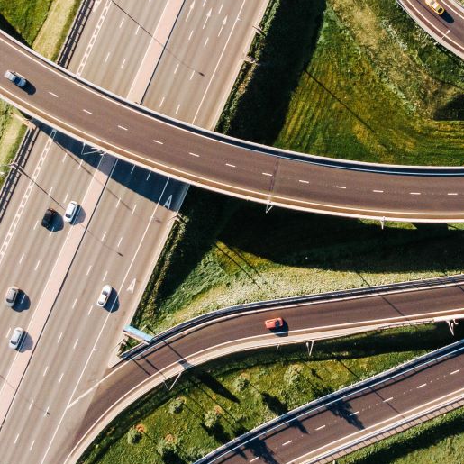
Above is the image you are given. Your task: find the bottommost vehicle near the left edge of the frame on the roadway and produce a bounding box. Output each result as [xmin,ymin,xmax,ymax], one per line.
[10,327,24,349]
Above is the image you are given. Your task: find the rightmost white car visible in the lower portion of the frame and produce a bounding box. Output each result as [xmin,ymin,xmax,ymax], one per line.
[97,284,113,307]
